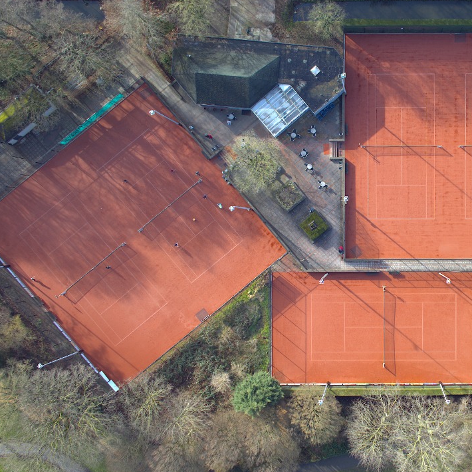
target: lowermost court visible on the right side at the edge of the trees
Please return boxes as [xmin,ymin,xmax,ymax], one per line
[272,272,472,386]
